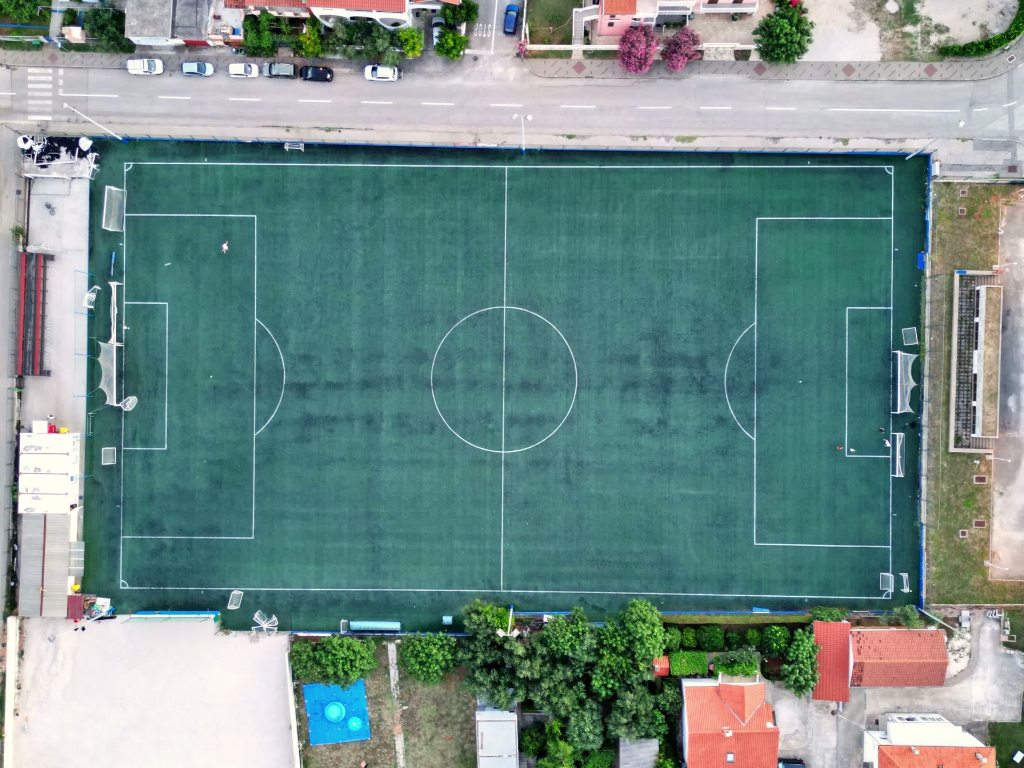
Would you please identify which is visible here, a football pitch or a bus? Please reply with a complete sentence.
The one in the frame is a football pitch.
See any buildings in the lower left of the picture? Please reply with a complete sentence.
Yes, in the lower left of the picture there is a building.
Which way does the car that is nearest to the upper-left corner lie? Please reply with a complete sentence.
What the image shows is the car that is nearest to the upper-left corner lying from side to side.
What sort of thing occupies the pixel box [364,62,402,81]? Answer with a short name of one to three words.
car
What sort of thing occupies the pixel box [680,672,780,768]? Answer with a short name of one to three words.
house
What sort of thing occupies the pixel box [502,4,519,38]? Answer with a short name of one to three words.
car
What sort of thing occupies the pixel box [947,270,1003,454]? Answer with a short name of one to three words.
building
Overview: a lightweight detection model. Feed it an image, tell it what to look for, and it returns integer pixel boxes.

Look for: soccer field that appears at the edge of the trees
[84,140,929,634]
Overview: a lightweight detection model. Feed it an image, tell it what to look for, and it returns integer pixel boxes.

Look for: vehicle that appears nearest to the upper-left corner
[123,56,162,76]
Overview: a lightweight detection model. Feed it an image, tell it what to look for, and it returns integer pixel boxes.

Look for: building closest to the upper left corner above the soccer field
[125,0,178,44]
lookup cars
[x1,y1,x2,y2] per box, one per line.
[502,4,519,38]
[430,15,447,50]
[123,56,162,76]
[364,62,402,81]
[228,60,259,78]
[180,58,214,77]
[778,754,808,768]
[299,62,332,81]
[262,60,297,79]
